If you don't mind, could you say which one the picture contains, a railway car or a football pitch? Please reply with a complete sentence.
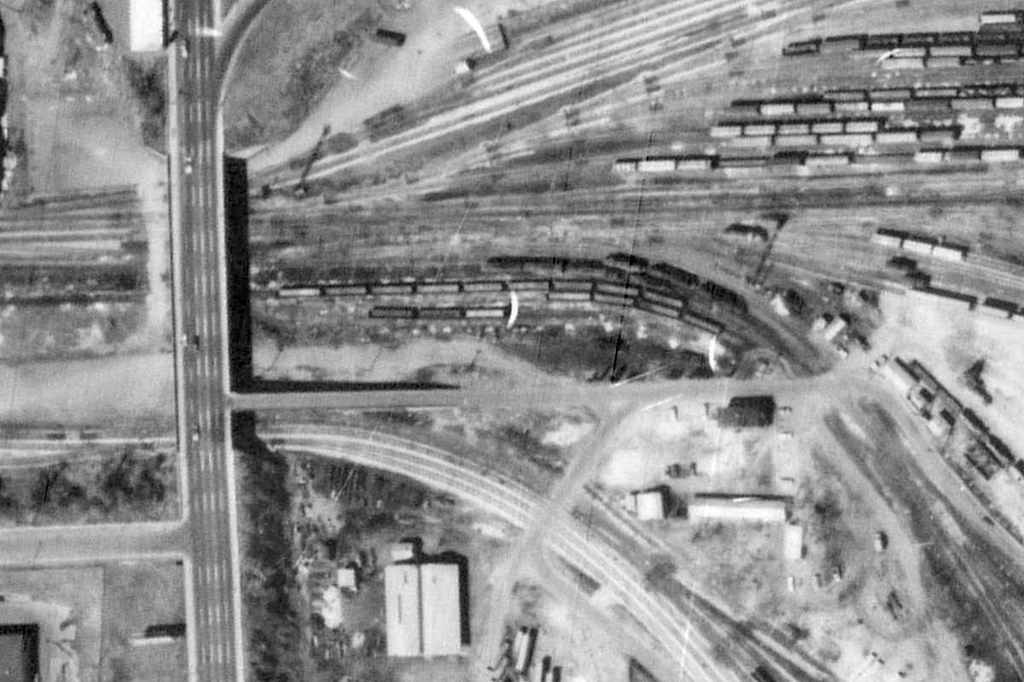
It is a railway car that can be seen here.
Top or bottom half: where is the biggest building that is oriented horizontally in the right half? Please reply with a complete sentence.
You can find the biggest building that is oriented horizontally in the right half in the bottom half.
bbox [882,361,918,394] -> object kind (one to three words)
shed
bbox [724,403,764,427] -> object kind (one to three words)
building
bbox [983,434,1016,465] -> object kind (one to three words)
rail car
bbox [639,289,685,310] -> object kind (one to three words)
rail car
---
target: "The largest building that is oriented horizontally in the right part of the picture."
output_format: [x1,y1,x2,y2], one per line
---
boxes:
[687,500,786,522]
